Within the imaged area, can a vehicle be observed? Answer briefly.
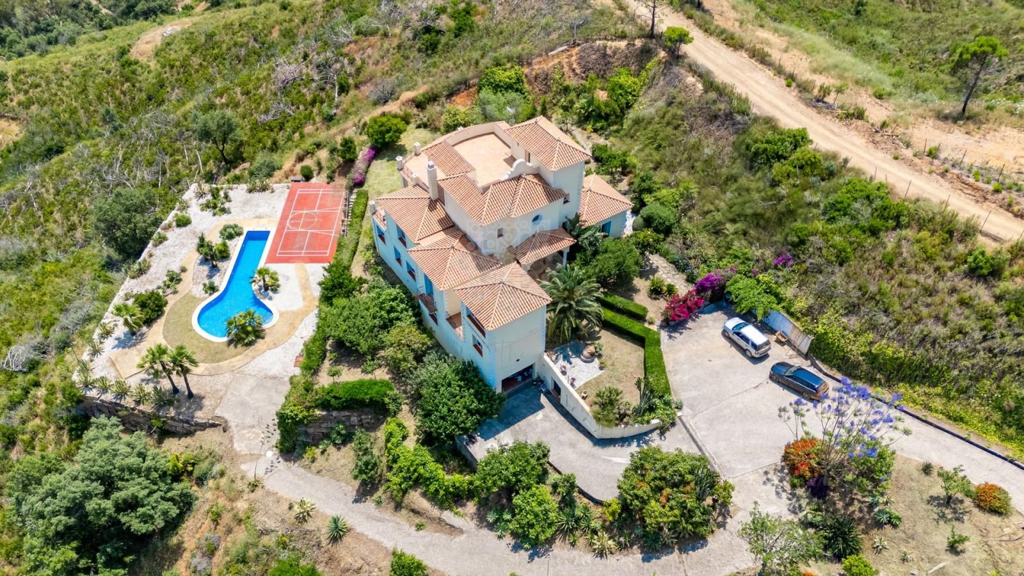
Yes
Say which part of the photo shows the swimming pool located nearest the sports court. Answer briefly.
left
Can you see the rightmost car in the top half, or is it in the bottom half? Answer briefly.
bottom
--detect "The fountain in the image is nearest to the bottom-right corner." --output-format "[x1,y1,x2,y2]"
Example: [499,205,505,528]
[577,345,599,368]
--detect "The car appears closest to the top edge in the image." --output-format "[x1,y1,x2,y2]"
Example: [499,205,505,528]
[722,318,773,360]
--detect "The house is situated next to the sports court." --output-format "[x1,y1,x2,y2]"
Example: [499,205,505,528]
[369,116,634,398]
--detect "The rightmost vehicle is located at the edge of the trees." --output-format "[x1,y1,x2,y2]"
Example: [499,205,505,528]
[767,359,829,402]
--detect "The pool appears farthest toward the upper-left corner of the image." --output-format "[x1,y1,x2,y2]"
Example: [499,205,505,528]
[191,220,280,343]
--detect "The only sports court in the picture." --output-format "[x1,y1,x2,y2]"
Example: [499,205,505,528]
[266,182,345,264]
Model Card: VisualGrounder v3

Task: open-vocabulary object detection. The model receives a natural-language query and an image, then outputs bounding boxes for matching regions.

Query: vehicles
[767,359,829,402]
[722,318,773,360]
